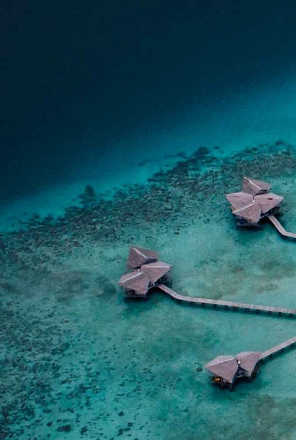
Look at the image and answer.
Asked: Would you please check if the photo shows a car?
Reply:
No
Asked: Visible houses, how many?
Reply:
three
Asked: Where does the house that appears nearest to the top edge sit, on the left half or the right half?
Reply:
right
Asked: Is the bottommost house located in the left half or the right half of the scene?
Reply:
right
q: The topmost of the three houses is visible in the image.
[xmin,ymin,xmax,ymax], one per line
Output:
[226,178,287,235]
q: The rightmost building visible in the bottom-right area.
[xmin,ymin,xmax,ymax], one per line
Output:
[206,351,266,396]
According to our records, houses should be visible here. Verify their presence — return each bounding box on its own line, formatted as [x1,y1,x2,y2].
[118,246,179,308]
[206,351,266,396]
[226,178,287,235]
